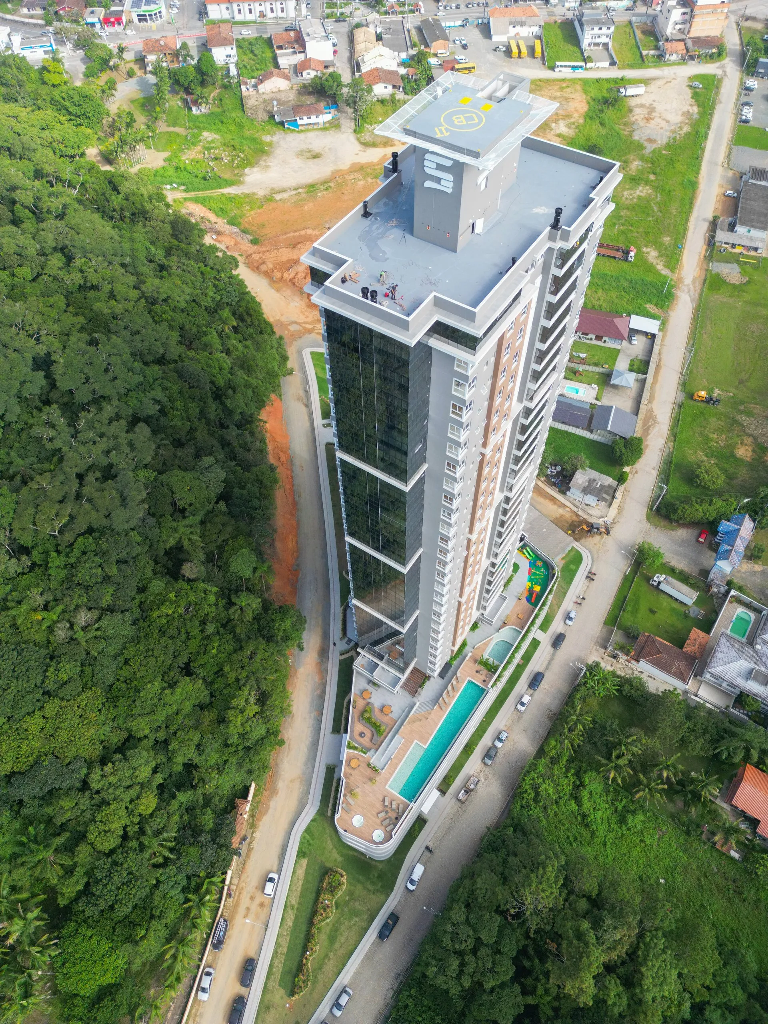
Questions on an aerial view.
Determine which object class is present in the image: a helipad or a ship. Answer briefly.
helipad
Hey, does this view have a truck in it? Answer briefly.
Yes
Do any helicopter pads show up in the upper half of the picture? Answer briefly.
Yes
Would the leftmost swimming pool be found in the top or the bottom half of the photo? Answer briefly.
bottom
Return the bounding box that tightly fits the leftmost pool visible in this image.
[386,680,489,803]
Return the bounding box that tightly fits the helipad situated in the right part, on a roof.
[402,82,534,156]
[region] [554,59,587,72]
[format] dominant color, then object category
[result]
white vehicle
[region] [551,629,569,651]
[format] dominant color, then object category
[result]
gray car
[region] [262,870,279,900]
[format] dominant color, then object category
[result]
white car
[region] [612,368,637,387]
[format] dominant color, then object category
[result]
white gazebo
